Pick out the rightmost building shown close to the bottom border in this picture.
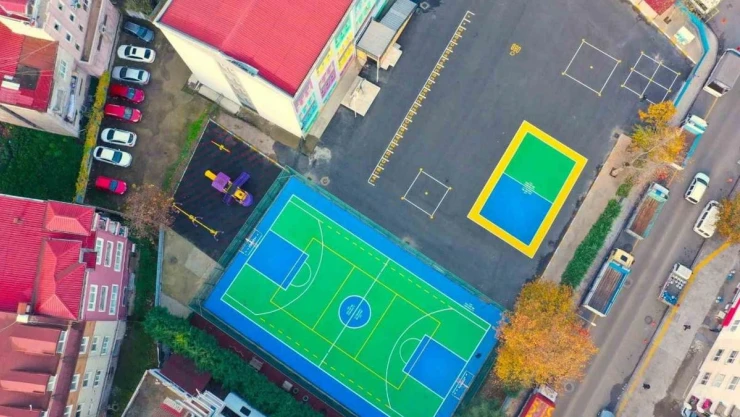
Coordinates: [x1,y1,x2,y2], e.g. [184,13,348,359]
[681,305,740,417]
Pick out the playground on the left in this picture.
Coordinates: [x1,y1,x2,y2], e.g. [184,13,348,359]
[160,119,285,263]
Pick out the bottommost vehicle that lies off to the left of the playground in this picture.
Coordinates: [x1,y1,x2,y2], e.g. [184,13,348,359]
[94,175,130,197]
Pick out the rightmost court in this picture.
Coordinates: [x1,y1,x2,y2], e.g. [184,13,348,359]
[465,121,588,259]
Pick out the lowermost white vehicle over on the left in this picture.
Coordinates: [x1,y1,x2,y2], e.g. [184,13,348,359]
[94,145,134,168]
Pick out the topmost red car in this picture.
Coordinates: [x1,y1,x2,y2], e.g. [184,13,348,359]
[110,85,147,106]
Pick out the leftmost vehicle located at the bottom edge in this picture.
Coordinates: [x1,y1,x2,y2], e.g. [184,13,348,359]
[519,380,558,417]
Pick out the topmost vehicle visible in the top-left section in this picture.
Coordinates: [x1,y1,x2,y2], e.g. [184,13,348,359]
[121,20,157,45]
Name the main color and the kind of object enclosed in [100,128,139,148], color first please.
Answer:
white car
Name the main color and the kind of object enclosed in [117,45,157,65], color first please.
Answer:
white car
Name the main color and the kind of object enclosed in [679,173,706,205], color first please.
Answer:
white vehicle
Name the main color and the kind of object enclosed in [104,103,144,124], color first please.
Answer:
red car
